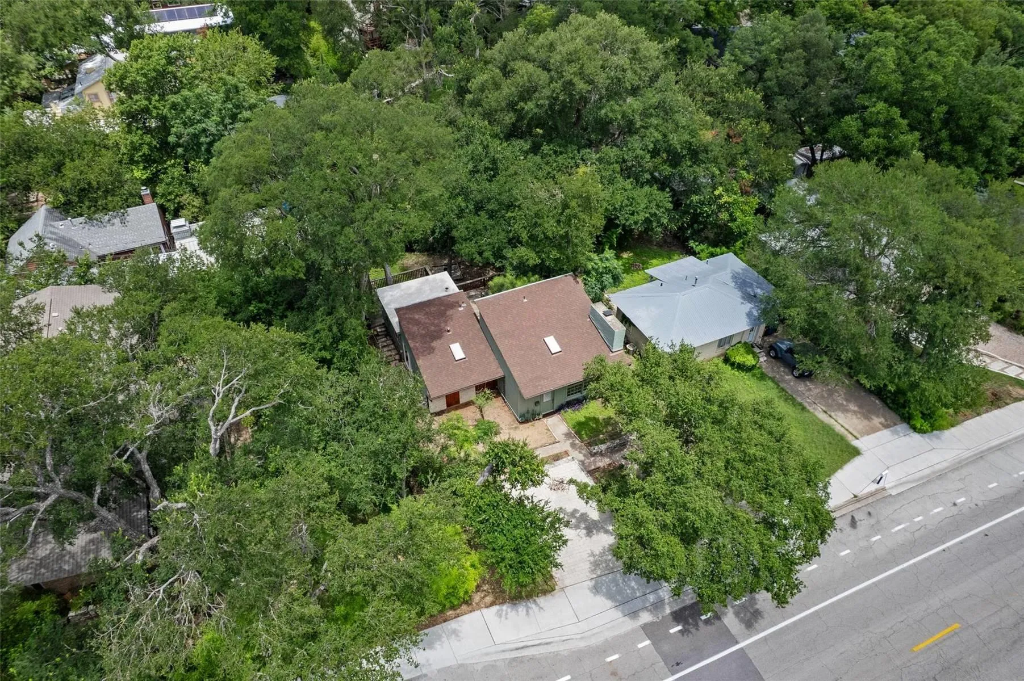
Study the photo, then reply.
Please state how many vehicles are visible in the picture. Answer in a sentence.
The photo contains exactly 1 vehicle.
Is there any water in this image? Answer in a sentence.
No, water can't be seen anywhere here.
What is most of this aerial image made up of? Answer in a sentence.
The scene is dominated by trees.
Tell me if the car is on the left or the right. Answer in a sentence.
The car sits on the right side.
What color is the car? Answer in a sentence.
The color of the car is black.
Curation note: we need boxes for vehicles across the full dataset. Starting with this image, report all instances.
[769,338,824,379]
